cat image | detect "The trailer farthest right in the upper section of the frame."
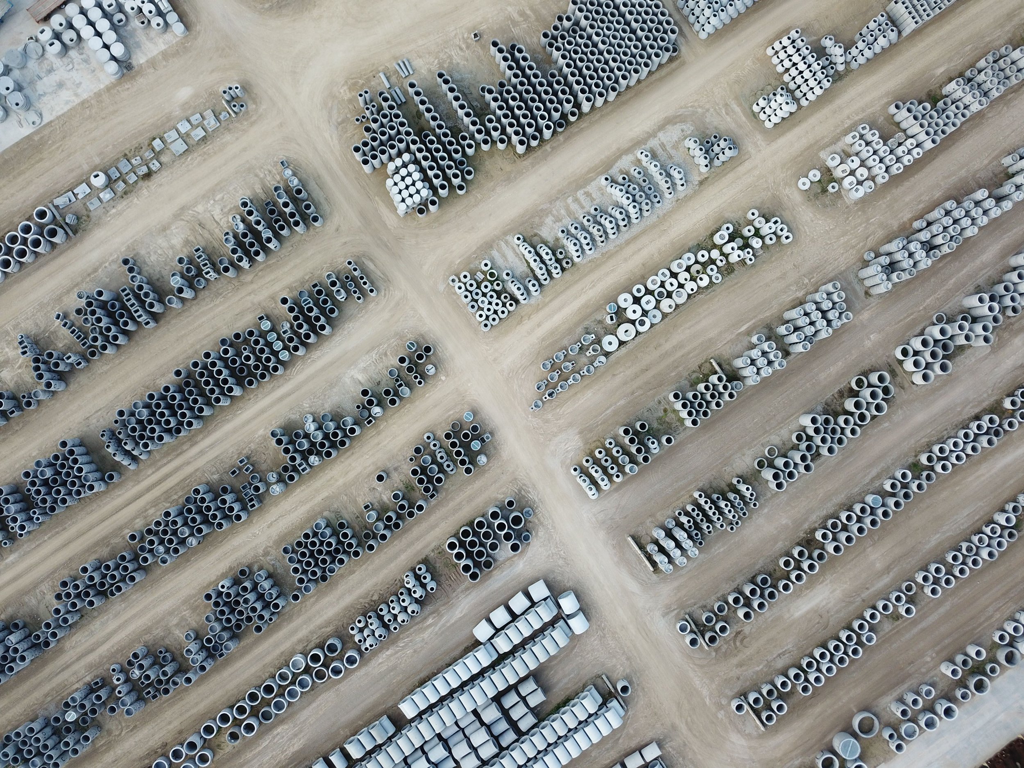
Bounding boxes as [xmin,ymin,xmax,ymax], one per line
[26,0,81,27]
